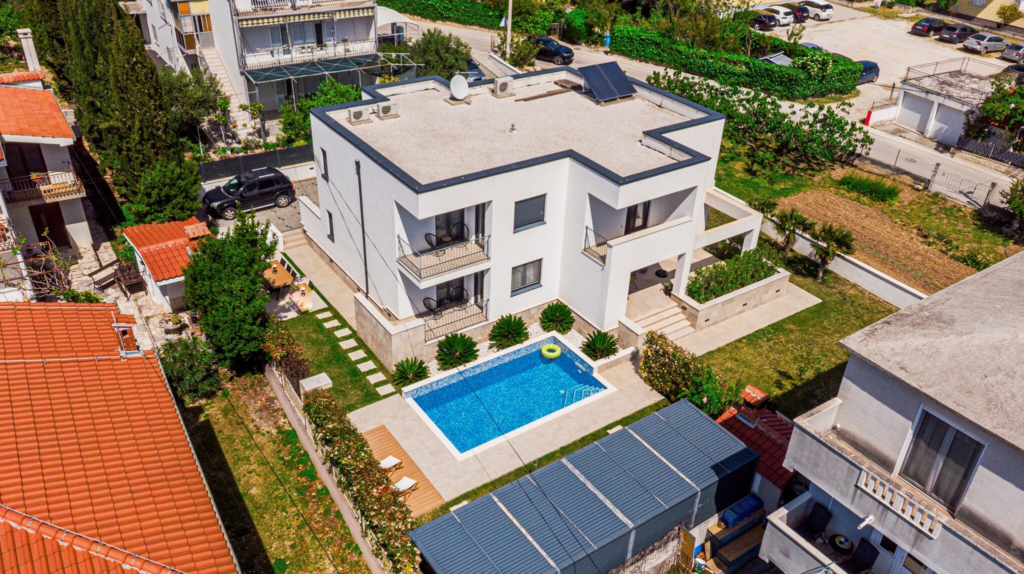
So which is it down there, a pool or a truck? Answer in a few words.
pool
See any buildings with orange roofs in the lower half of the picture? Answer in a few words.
Yes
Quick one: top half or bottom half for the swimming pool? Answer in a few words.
bottom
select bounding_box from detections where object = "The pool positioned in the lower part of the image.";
[401,330,641,462]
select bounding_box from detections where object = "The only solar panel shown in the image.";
[579,64,631,107]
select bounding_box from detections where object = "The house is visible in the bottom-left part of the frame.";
[0,298,251,574]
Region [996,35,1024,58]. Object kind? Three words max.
car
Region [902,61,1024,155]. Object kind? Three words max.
building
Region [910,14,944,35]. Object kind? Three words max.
car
